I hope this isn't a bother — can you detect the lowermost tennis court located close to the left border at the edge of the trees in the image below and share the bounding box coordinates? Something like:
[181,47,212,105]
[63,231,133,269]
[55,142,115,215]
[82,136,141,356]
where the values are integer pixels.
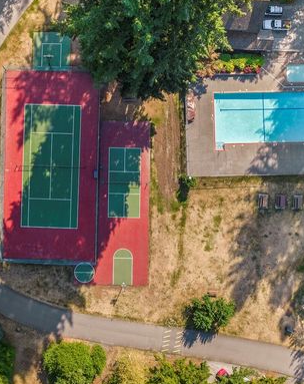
[0,71,99,262]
